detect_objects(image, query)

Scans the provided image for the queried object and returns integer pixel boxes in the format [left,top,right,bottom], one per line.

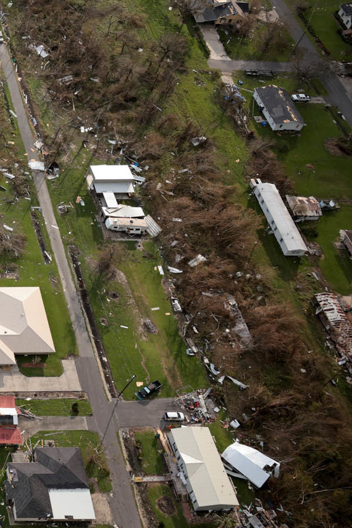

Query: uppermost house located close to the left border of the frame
[0,286,56,370]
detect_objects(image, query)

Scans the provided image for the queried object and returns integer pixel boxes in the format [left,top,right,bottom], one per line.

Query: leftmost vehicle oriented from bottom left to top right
[139,381,162,398]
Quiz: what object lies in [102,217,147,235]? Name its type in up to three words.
camper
